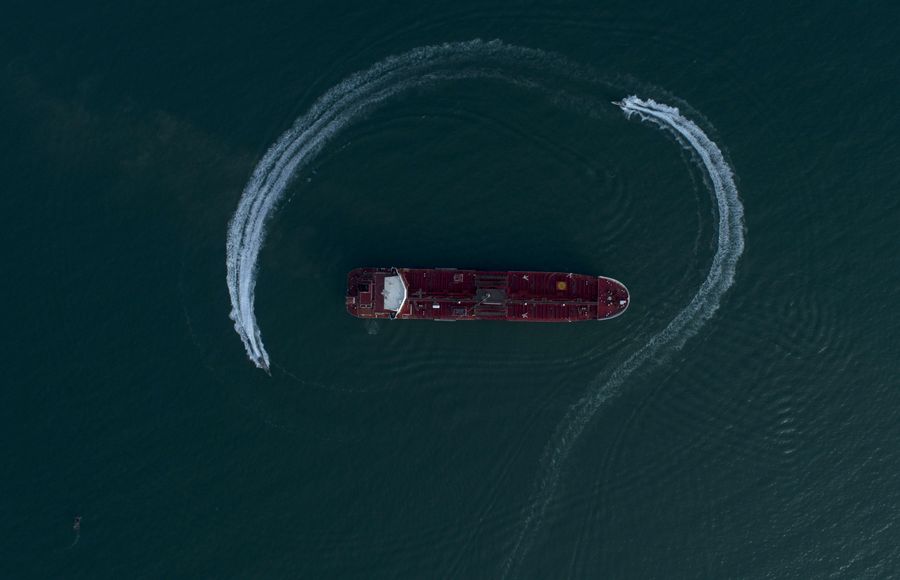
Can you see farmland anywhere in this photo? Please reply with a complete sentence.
No, there is no farmland in the image.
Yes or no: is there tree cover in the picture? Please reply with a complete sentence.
No, there's no tree cover in this view.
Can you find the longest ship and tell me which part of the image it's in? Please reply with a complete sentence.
You can find the longest ship in the center area of the picture.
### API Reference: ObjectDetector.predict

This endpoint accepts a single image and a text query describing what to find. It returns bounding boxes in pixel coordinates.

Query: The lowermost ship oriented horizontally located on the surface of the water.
[346,267,629,322]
